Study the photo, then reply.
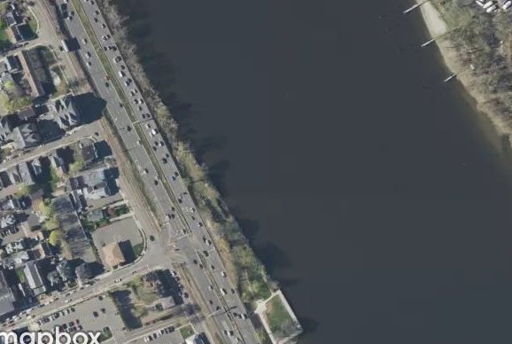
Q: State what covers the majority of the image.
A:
water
